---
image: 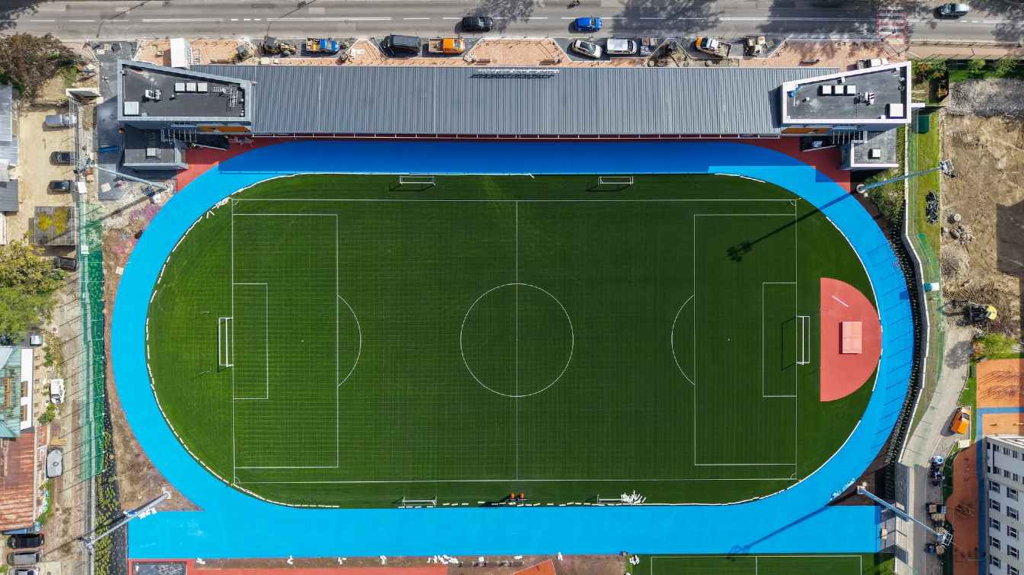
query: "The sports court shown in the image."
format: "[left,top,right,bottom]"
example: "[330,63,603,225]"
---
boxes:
[945,358,1024,575]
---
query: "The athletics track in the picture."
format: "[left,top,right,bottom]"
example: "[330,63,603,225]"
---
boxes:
[112,136,914,575]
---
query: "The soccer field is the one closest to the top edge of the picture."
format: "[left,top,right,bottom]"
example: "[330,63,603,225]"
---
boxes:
[144,173,882,507]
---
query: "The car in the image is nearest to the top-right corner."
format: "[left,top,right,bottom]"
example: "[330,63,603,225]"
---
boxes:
[936,2,969,17]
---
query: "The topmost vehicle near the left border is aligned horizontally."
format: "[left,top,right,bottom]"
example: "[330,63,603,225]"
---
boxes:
[44,113,78,128]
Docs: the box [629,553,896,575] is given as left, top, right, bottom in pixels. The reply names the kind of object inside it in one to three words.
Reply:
soccer field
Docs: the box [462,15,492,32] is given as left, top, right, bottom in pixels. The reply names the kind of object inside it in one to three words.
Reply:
car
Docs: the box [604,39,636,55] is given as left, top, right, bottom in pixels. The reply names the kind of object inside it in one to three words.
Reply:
vehicle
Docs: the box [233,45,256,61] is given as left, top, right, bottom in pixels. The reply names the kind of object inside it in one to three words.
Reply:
work vehicle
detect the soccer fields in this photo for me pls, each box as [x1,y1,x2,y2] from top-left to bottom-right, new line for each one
[629,553,896,575]
[144,173,882,507]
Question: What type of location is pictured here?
sports ground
